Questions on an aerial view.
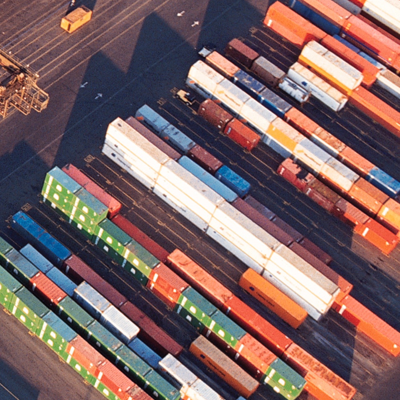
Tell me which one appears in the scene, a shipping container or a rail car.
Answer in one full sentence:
I can see a shipping container in this picture.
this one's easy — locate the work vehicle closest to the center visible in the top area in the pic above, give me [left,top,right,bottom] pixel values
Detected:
[174,81,202,106]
